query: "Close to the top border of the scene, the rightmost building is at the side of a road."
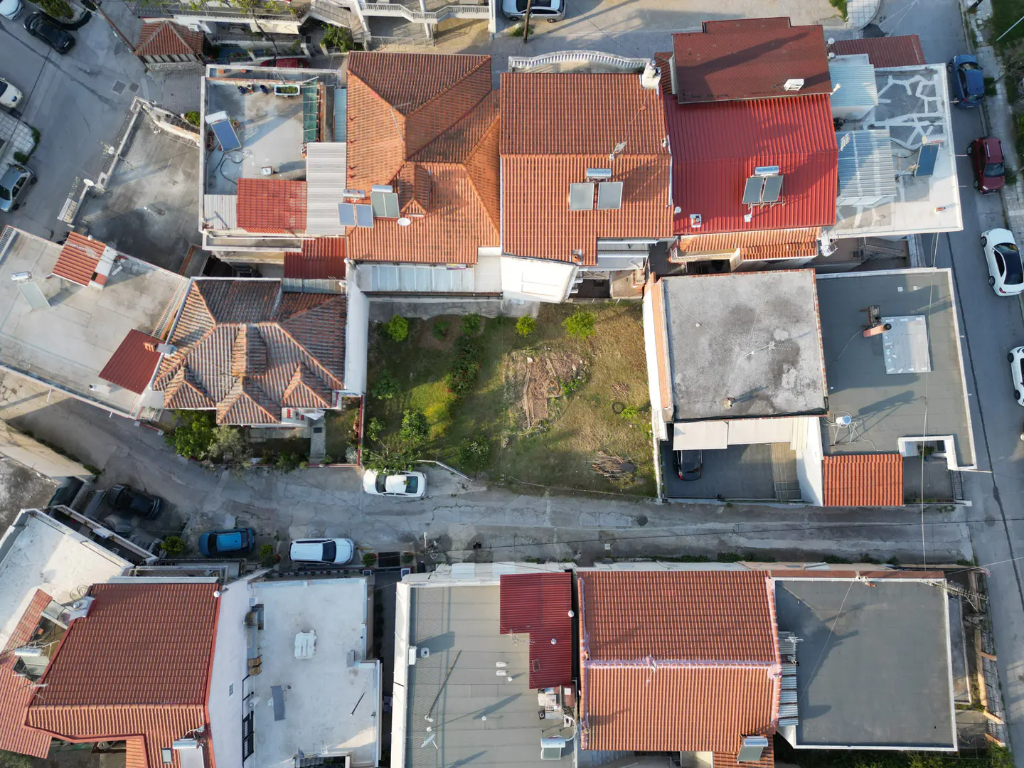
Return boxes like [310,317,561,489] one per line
[809,34,970,269]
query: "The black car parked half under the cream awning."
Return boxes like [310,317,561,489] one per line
[673,450,700,485]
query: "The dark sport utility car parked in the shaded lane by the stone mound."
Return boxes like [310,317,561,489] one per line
[103,481,168,522]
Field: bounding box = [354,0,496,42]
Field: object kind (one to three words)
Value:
house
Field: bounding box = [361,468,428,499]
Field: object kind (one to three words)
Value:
car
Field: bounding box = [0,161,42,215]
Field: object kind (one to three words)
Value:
car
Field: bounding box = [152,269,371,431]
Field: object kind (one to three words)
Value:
house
